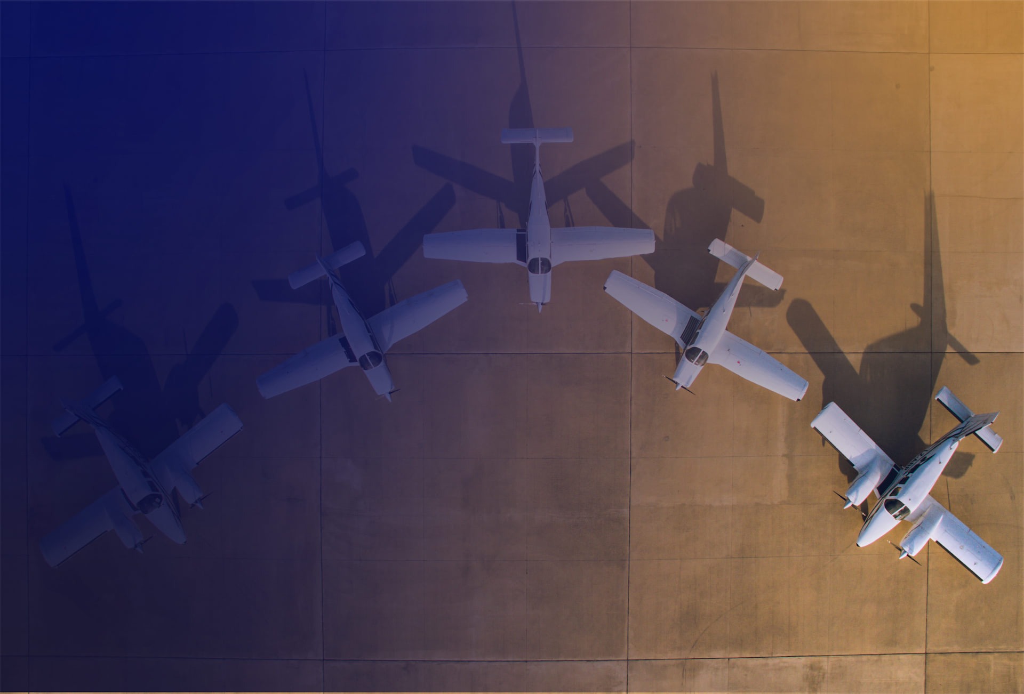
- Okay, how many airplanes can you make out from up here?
5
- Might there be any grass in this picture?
No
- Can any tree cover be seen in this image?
No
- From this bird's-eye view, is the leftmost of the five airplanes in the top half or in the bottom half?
bottom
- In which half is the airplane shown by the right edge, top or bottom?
bottom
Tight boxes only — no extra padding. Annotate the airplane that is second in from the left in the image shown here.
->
[257,241,467,401]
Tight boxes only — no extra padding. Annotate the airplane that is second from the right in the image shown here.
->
[603,239,808,402]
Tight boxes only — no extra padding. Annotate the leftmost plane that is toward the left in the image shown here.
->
[39,376,242,564]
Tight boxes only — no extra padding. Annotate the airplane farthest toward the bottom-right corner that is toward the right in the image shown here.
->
[813,387,1005,580]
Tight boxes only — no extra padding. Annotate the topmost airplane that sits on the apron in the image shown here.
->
[423,128,655,312]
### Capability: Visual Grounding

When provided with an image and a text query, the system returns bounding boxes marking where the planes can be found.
[257,241,467,401]
[813,387,1005,580]
[423,128,655,312]
[39,376,242,564]
[603,239,808,402]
